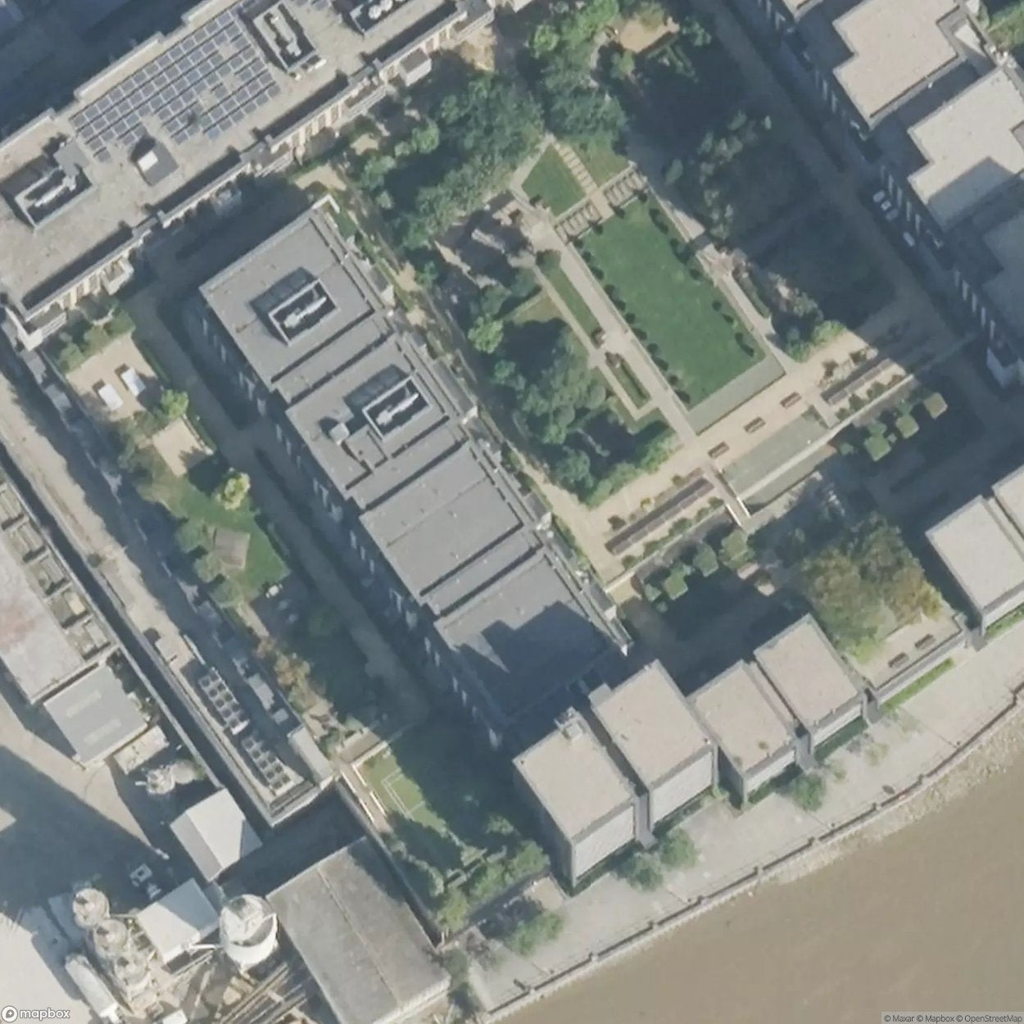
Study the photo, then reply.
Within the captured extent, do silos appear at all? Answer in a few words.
Yes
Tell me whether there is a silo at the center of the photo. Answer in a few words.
No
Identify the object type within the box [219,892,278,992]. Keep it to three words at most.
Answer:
silo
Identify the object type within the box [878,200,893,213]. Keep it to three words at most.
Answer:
vehicle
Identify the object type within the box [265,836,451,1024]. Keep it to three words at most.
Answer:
warehouse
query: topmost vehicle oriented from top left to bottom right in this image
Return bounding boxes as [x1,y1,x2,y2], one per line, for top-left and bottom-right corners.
[901,231,916,247]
